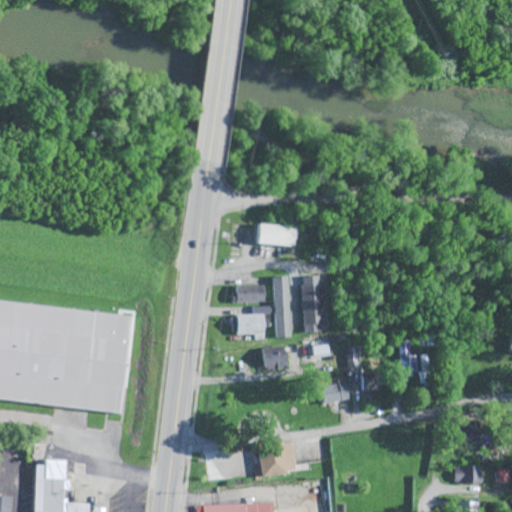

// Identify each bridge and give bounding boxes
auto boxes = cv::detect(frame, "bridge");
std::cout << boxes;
[197,0,249,154]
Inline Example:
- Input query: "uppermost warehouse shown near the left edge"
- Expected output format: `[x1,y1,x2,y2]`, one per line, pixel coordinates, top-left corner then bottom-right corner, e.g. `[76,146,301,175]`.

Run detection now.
[0,294,135,414]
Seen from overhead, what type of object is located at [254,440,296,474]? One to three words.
house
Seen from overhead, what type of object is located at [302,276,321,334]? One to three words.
building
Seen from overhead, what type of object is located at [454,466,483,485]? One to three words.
house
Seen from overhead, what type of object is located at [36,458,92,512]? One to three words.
building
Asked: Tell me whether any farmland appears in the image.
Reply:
No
